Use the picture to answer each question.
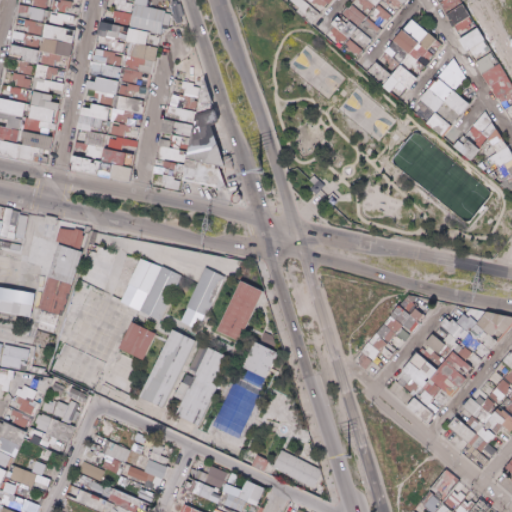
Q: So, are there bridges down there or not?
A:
No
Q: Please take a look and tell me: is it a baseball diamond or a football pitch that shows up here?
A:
football pitch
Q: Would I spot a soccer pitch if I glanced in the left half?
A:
No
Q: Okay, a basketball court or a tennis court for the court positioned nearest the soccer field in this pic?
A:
basketball court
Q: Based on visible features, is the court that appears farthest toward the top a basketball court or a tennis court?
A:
basketball court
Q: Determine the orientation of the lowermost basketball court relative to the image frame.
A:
at an angle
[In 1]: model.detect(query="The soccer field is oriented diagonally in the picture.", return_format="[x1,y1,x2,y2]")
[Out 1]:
[396,136,487,217]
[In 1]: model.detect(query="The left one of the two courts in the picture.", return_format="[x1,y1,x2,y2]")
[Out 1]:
[290,46,346,98]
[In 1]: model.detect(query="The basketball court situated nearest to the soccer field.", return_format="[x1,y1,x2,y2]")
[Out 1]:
[340,88,397,140]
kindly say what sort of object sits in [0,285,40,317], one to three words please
house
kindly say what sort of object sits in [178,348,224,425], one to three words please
building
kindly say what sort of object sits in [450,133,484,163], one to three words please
house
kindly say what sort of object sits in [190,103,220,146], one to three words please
building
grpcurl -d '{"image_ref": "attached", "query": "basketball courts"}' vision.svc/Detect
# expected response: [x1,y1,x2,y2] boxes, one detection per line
[340,88,397,140]
[290,46,346,98]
